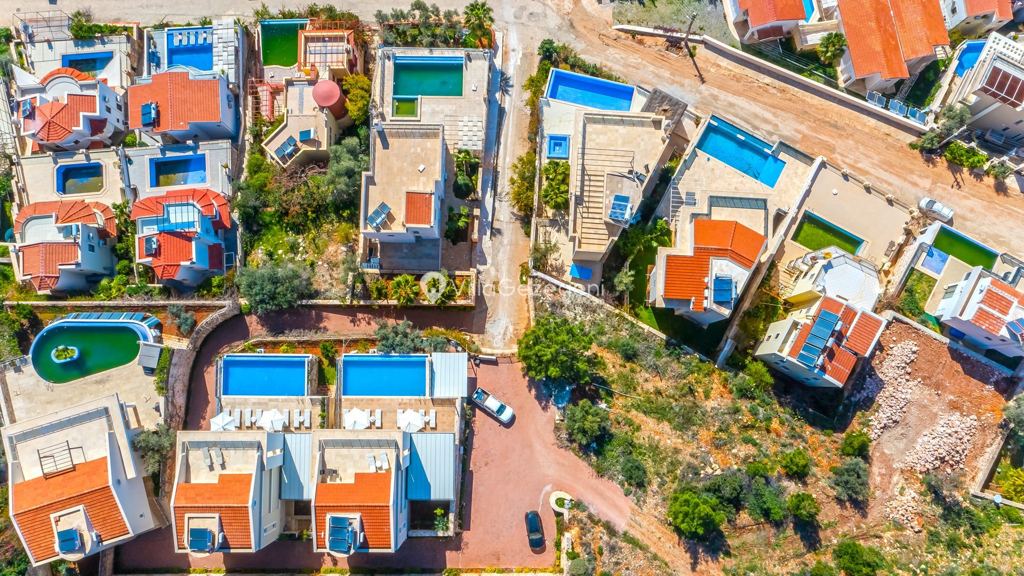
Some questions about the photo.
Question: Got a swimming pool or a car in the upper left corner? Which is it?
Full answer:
There is a swimming pool in the upper left corner.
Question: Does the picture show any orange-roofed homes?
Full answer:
Yes, an orange-roofed home can be made out from above.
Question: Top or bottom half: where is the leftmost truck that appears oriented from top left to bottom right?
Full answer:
It is in the bottom half that the leftmost truck that appears oriented from top left to bottom right appears.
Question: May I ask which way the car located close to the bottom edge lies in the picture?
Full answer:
What the image shows is the car located close to the bottom edge lying up and down.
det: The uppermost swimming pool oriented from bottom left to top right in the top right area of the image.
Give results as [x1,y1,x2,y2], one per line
[954,38,989,79]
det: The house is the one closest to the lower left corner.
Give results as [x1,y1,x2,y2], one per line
[1,393,166,567]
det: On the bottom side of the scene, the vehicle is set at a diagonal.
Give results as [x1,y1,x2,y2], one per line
[470,386,517,426]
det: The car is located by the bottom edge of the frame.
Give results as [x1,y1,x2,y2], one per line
[525,510,545,553]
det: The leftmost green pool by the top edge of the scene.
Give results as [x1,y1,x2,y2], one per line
[258,18,312,69]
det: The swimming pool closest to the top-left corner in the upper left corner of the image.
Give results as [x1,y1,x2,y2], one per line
[57,47,118,77]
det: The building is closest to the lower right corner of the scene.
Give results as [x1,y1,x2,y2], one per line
[923,266,1024,360]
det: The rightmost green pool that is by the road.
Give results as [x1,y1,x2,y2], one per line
[926,221,1003,275]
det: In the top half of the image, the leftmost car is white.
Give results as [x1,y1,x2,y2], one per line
[919,193,963,225]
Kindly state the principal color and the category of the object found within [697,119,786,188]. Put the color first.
blue swimming pool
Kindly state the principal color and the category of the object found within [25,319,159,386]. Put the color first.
green swimming pool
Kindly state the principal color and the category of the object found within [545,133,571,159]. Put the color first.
blue swimming pool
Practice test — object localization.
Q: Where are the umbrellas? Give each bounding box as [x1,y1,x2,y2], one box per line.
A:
[211,408,237,430]
[342,404,372,430]
[397,406,426,433]
[259,405,288,432]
